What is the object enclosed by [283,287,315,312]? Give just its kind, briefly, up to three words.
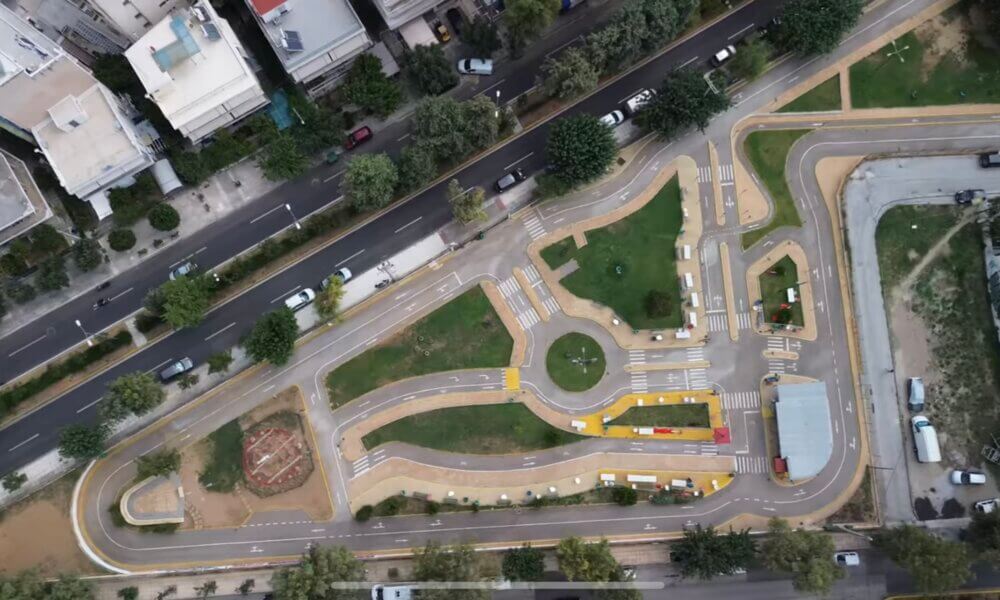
car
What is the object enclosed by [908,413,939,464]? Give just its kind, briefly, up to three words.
van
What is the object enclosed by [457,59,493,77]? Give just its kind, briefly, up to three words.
vehicle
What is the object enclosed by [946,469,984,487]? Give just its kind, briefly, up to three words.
car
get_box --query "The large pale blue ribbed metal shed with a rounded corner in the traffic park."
[770,381,832,480]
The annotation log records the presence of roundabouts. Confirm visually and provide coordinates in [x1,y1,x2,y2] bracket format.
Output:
[539,324,613,398]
